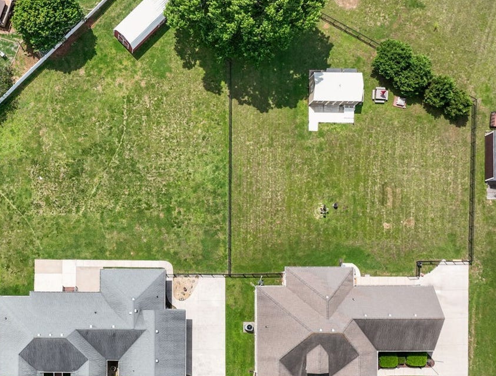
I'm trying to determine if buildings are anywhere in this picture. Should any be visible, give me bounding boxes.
[114,0,178,53]
[0,268,187,376]
[308,73,363,117]
[486,130,496,180]
[255,267,444,376]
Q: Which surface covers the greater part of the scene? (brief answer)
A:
grass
